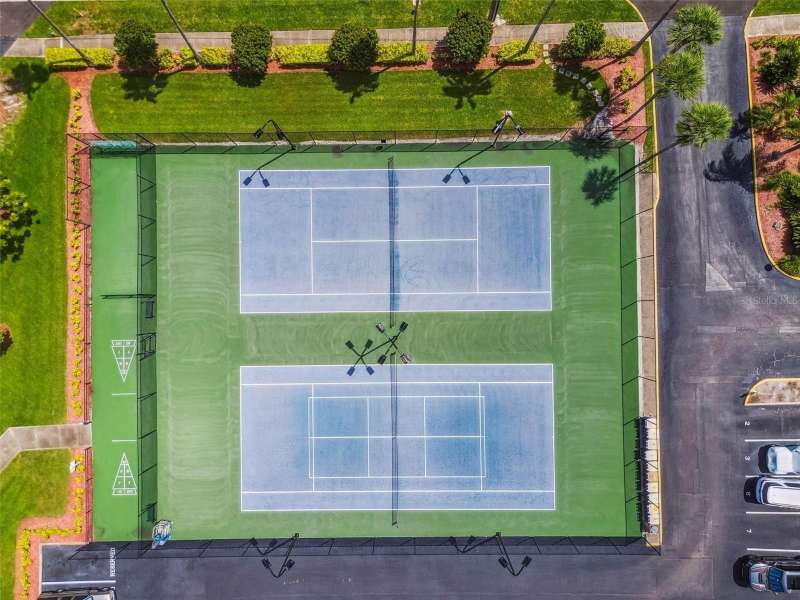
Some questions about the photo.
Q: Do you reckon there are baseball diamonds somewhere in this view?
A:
No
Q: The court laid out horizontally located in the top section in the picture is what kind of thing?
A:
tennis court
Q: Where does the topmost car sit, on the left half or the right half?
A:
right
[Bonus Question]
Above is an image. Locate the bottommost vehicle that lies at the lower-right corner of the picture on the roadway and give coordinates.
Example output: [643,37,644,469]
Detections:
[744,558,800,595]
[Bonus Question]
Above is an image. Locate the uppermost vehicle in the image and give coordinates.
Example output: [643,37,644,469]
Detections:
[764,445,800,477]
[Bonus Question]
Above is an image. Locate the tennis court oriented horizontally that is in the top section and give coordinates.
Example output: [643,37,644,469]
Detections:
[239,166,552,313]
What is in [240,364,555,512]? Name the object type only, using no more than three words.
tennis court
